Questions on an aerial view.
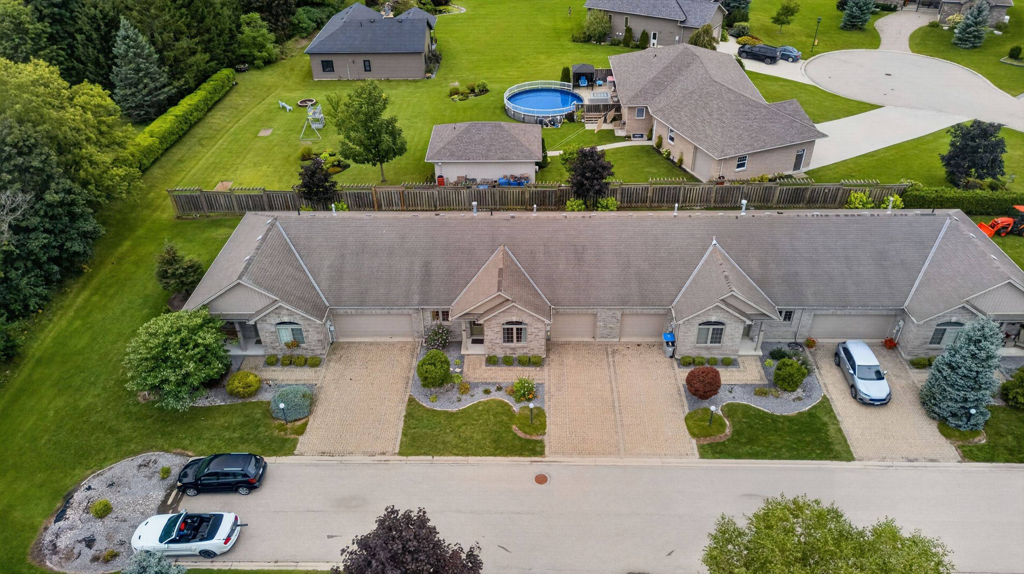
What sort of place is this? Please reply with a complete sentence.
This looks like a residential area.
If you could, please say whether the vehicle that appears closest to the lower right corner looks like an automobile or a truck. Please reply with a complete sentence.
Specifically, the vehicle that appears closest to the lower right corner is an automobile.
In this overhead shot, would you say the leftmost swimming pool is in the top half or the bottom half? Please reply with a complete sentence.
Seen from above, the leftmost swimming pool lies in the top half of the view.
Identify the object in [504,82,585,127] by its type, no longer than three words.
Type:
swimming pool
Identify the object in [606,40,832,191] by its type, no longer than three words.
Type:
house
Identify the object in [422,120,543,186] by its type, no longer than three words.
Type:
shed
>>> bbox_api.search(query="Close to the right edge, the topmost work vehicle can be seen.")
[979,197,1024,235]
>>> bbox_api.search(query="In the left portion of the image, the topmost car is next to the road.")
[172,449,272,496]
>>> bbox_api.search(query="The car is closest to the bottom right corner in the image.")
[835,339,899,405]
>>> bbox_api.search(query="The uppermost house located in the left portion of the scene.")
[299,1,445,79]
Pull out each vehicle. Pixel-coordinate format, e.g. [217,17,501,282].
[979,197,1024,235]
[172,449,272,496]
[779,46,804,62]
[835,339,899,405]
[741,44,783,64]
[124,504,243,559]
